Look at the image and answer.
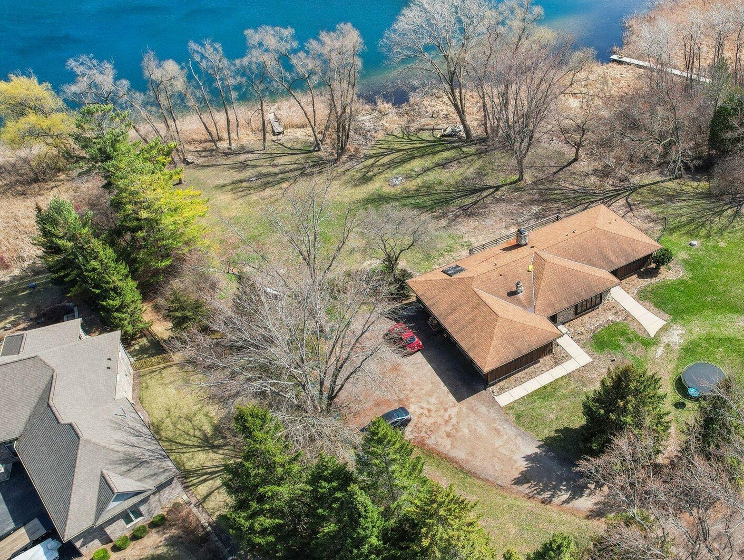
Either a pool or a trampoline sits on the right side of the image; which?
trampoline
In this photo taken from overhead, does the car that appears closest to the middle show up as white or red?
red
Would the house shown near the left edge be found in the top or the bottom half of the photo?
bottom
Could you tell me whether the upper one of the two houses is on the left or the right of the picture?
right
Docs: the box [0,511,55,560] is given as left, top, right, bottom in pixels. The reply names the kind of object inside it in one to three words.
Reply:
trailer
